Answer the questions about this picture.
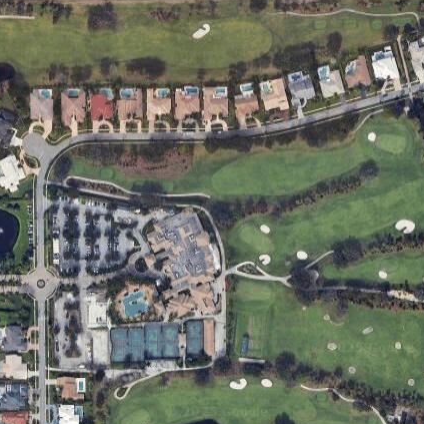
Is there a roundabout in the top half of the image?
No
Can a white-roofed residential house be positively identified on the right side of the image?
Yes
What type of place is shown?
golf course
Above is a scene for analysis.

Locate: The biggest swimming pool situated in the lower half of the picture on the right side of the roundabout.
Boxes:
[123,290,149,318]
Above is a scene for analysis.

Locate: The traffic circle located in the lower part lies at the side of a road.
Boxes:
[23,265,62,302]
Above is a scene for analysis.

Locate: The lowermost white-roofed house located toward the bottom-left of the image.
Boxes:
[59,404,80,424]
